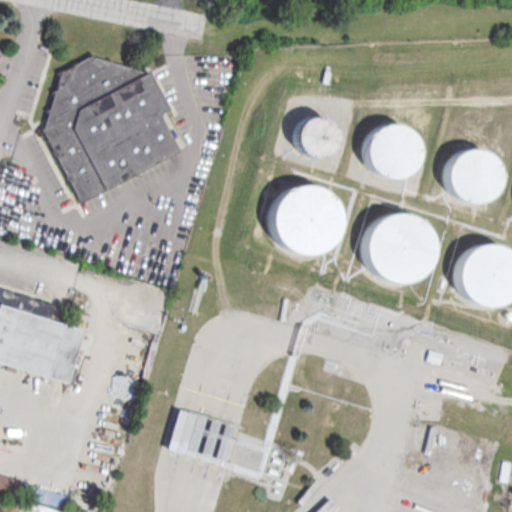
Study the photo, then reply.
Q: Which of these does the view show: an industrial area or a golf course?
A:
industrial area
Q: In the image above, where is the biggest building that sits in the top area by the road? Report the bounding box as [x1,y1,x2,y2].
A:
[44,57,181,203]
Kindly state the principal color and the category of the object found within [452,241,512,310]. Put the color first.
white storage tank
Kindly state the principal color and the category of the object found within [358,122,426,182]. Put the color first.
white storage tank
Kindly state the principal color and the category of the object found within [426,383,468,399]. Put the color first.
white vehicle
